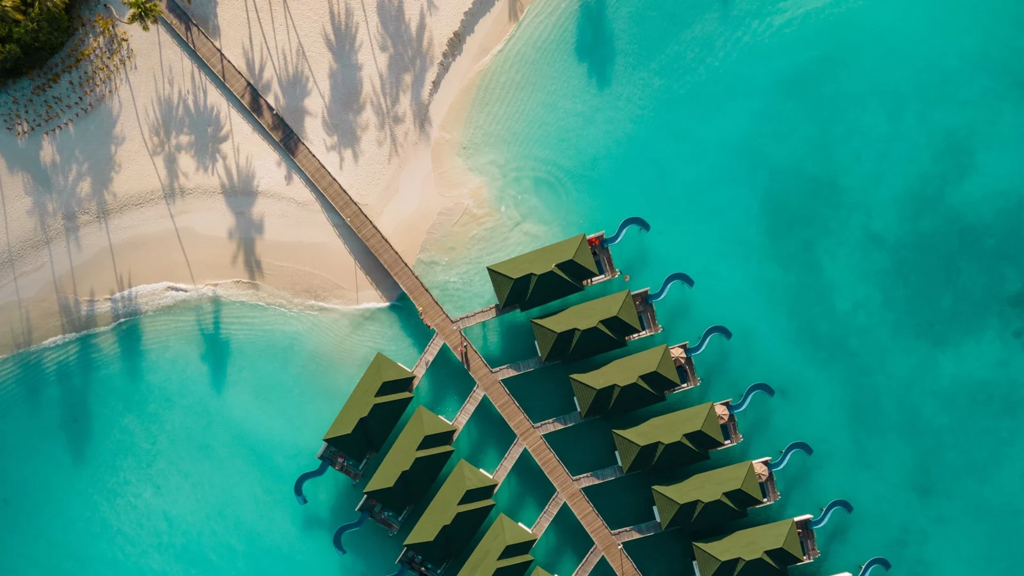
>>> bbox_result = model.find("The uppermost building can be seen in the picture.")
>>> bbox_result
[487,230,621,312]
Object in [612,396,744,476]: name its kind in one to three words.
house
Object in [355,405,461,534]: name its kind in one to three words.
house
